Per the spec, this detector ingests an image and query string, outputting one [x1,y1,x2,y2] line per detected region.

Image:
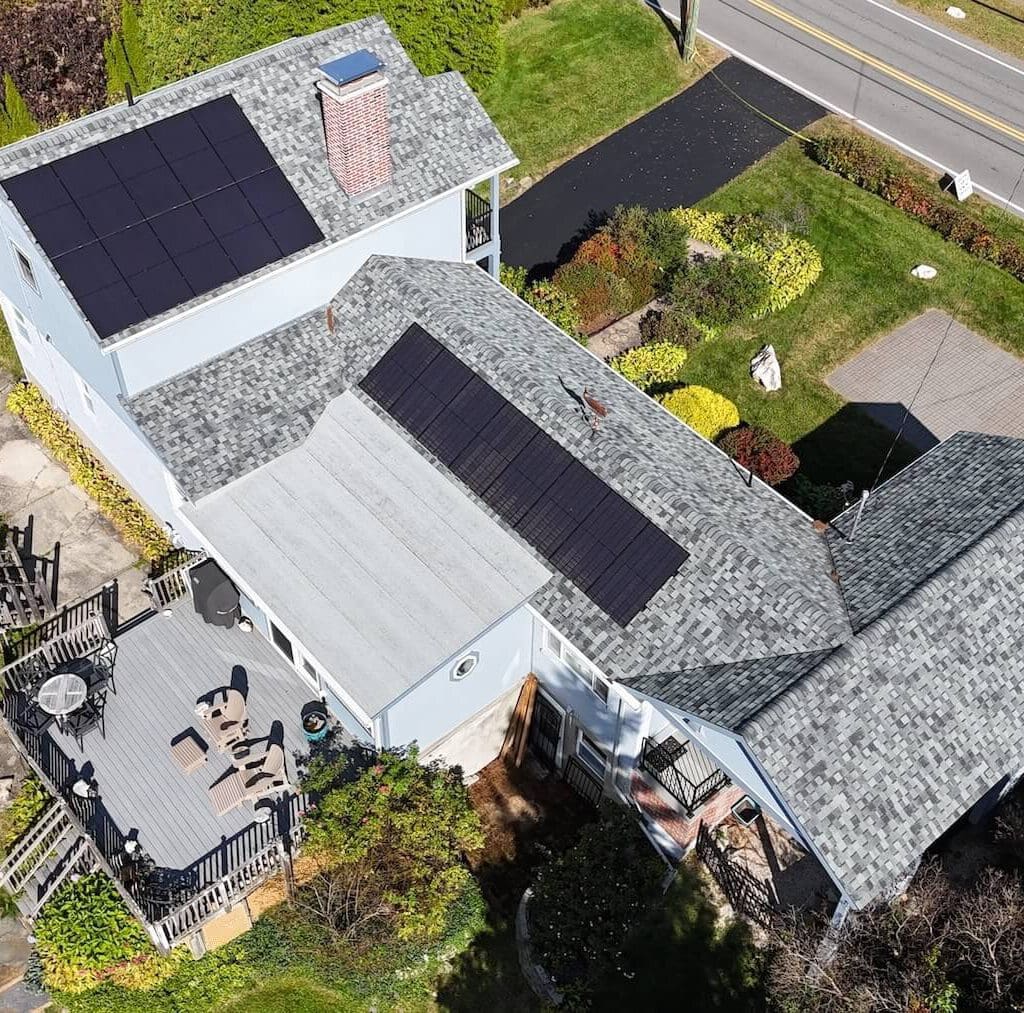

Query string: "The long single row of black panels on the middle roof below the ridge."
[355,326,688,629]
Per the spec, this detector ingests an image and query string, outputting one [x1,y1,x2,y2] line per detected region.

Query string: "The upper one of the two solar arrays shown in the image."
[3,97,326,340]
